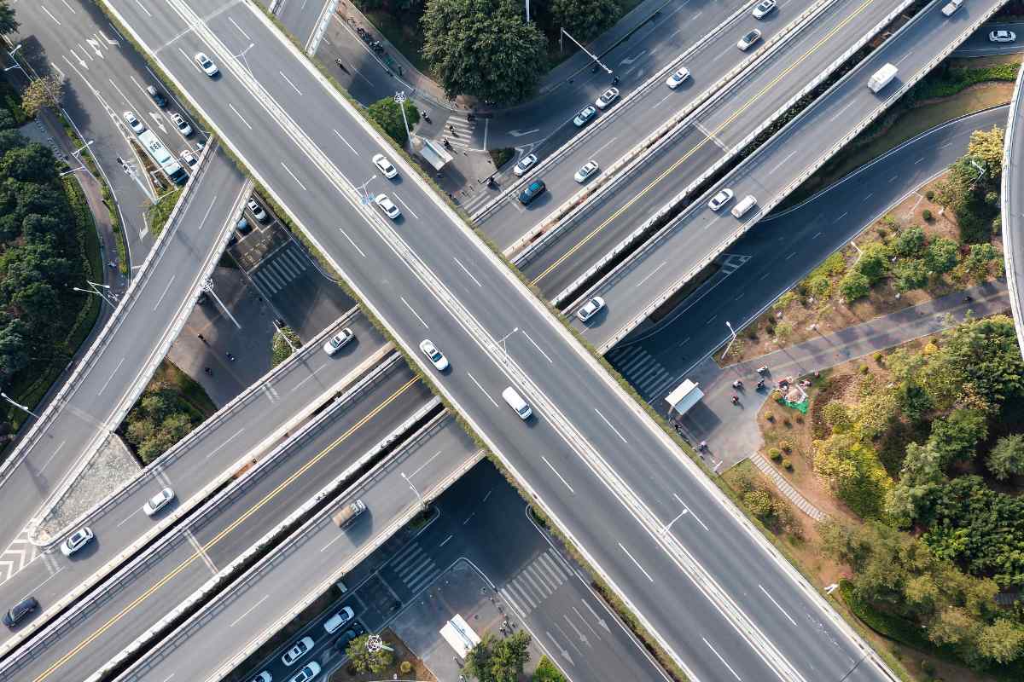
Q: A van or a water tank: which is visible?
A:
van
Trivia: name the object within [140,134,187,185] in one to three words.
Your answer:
bus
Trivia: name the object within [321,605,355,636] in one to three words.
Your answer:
van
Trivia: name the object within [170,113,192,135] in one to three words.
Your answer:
car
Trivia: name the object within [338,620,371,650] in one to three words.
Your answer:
car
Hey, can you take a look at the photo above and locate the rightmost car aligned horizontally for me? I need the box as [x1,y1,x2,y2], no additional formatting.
[987,30,1015,43]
